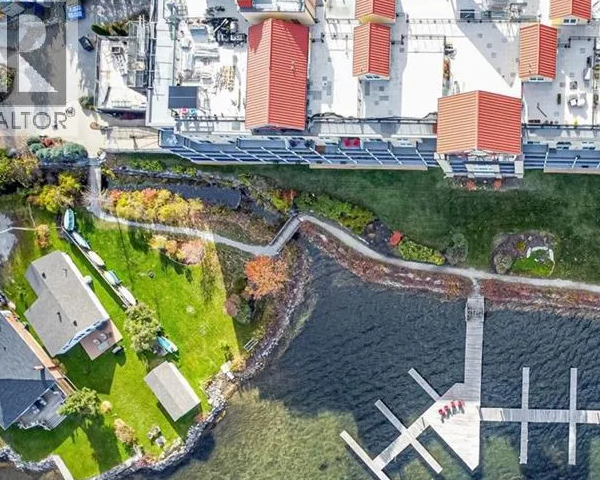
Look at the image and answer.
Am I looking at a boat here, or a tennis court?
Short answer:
boat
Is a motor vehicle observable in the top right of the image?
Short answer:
No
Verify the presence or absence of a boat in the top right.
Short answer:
No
